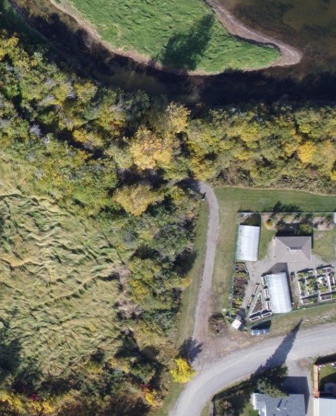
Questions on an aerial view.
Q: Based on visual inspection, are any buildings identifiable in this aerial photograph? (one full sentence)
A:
Yes, this view includes a building.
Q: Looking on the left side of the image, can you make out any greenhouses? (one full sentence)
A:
No, looking on the left side of the image, there is no greenhouse.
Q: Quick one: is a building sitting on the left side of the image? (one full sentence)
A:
No, I see no building on the left side of the image.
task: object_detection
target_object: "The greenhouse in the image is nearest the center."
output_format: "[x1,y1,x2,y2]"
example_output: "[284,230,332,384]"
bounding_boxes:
[233,225,259,262]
